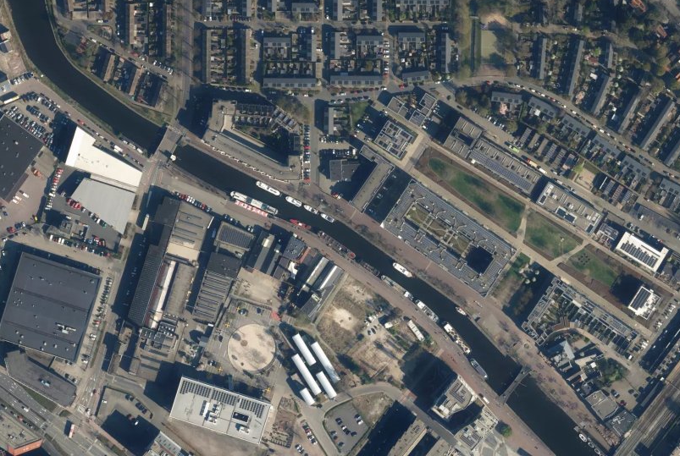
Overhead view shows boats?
Yes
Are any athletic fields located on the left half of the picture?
No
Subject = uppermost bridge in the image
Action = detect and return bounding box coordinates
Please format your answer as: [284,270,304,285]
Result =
[155,127,183,162]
